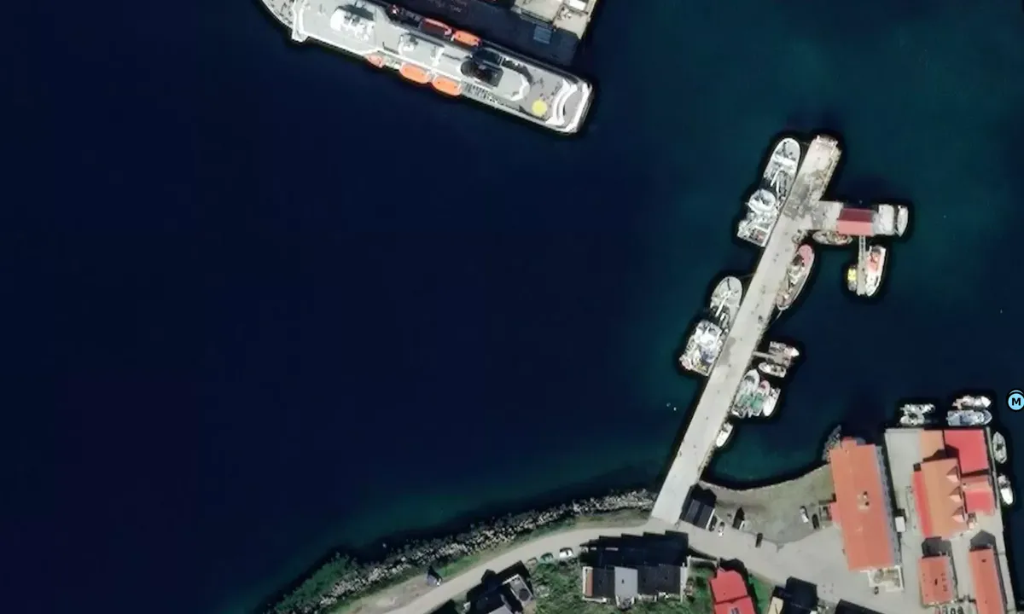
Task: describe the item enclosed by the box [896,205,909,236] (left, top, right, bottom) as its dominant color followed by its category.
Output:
white boat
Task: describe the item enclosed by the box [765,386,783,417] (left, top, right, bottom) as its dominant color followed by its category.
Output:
white boat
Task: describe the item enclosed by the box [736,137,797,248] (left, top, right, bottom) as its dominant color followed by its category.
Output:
white vessel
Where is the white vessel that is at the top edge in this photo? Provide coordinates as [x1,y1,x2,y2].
[267,0,595,133]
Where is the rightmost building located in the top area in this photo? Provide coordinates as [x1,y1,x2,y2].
[838,209,875,237]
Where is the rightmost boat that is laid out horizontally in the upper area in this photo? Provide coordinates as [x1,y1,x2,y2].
[812,232,853,247]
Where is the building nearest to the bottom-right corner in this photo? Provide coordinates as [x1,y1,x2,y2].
[970,549,1006,614]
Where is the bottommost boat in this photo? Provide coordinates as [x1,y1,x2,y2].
[997,475,1011,505]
